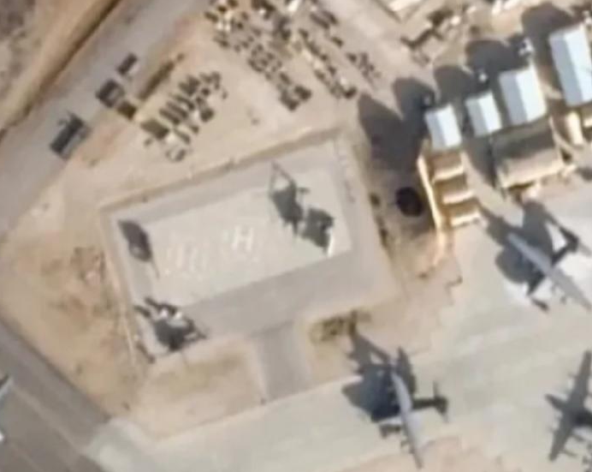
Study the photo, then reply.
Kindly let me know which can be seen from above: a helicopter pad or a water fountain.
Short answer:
helicopter pad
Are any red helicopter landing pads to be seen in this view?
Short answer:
No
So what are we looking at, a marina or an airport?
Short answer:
airport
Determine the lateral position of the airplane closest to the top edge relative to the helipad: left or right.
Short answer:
on its right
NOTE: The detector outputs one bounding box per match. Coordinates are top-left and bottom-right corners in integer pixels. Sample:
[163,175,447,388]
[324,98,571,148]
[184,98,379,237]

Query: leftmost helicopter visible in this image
[136,233,162,280]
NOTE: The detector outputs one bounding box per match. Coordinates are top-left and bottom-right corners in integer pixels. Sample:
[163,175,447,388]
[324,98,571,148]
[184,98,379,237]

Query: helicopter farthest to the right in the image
[314,211,333,260]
